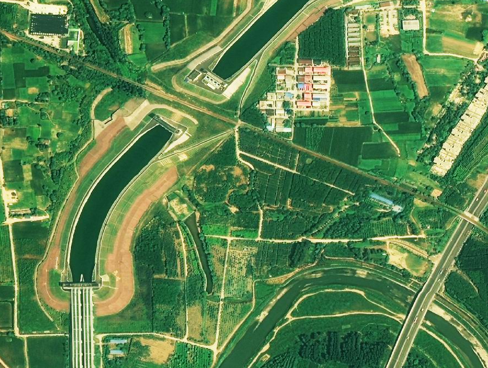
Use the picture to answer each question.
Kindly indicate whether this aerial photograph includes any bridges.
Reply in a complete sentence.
Yes, a bridge can be made out from above.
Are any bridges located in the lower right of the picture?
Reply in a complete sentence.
Yes, the scene does show a bridge in the lower right of the picture.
